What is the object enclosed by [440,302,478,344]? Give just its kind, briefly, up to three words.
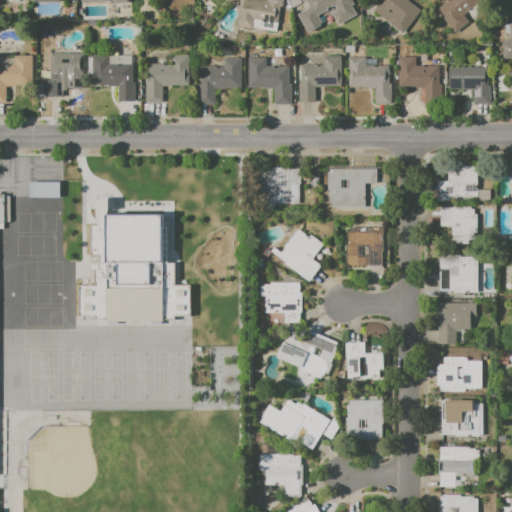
house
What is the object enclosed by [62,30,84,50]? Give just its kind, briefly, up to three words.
swimming pool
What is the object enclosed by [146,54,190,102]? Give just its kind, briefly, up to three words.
house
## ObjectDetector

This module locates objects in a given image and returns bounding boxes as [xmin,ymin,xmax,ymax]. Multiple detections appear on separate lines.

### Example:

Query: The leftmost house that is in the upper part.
[0,55,32,103]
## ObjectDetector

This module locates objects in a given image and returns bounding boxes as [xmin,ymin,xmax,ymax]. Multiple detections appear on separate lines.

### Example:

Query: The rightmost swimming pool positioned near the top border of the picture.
[220,8,238,32]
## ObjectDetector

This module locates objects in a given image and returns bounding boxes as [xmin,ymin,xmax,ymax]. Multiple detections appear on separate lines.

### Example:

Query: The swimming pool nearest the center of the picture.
[261,226,284,244]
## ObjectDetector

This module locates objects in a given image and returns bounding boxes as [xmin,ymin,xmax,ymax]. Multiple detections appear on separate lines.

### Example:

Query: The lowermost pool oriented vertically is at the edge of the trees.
[266,354,280,380]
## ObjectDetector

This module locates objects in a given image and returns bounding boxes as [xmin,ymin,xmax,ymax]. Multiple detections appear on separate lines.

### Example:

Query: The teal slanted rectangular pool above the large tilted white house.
[312,396,333,413]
